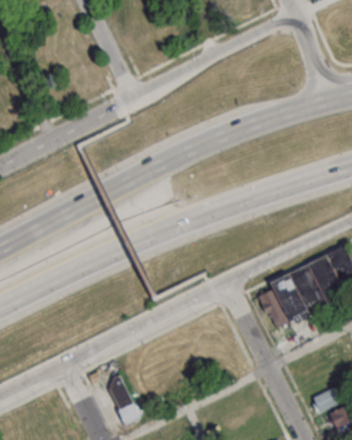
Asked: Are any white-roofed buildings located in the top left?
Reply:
No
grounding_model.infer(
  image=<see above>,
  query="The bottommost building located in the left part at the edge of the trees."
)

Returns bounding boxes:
[119,403,142,426]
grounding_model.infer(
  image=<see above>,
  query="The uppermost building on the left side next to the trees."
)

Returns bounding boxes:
[110,376,132,408]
